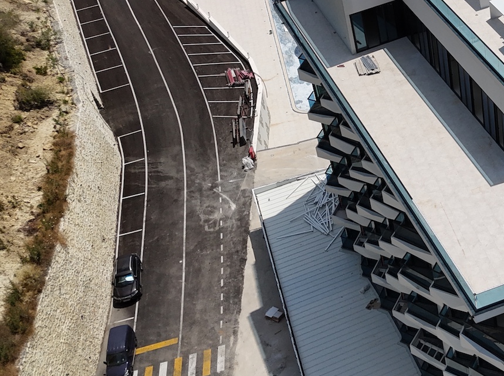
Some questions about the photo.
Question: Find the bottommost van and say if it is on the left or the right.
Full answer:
The bottommost van is on the left side of the image.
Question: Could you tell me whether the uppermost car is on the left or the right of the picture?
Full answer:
The uppermost car is on the left side of the image.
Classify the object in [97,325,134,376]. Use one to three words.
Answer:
van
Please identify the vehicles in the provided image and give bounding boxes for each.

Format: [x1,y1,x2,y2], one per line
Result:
[108,252,142,305]
[97,325,134,376]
